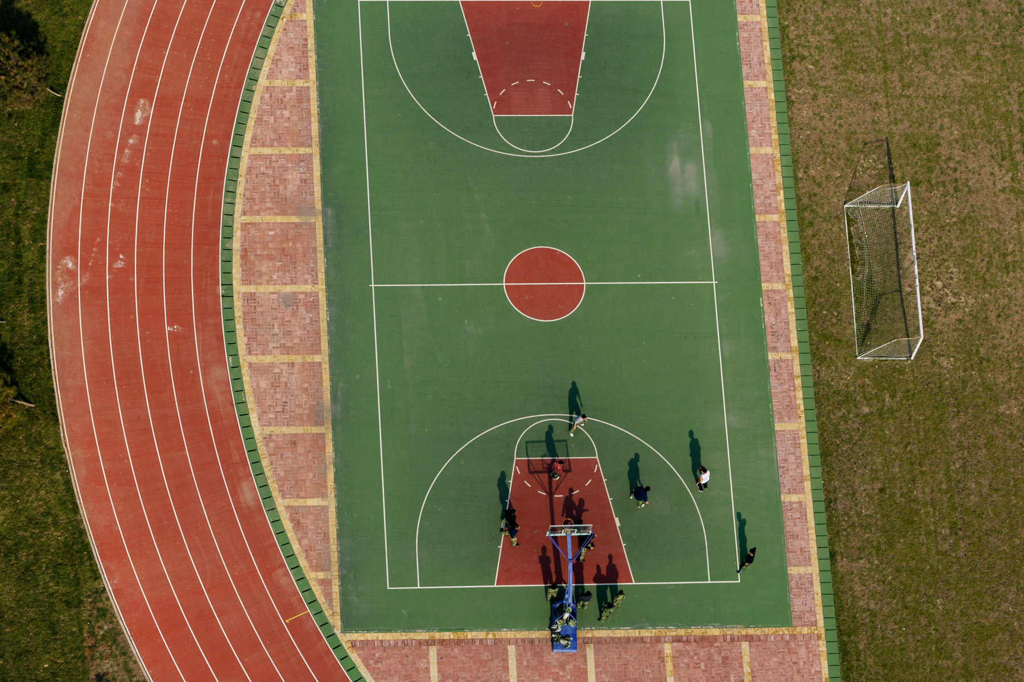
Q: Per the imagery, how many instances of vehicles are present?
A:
0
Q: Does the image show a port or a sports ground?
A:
sports ground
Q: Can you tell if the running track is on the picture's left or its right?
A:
left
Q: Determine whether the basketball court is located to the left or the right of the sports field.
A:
on its left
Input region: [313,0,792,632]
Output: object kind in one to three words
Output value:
basketball court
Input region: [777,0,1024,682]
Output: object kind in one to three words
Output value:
sports field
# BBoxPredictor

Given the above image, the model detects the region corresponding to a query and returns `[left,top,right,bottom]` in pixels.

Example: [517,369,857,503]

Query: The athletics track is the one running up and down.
[49,0,352,682]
